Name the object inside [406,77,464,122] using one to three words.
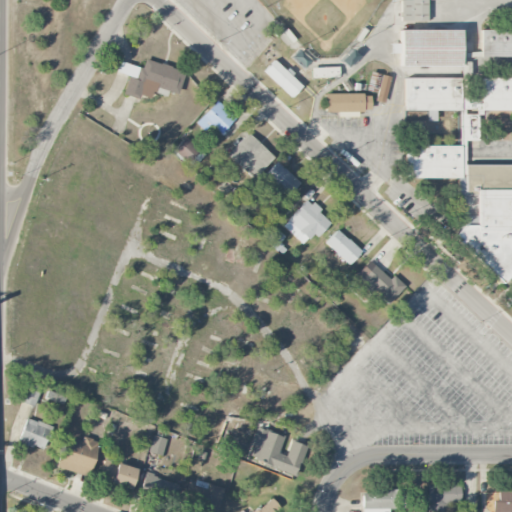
building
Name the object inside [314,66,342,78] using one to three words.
building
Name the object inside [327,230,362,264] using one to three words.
house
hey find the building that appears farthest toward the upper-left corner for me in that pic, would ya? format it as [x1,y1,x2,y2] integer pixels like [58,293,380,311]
[118,57,186,98]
